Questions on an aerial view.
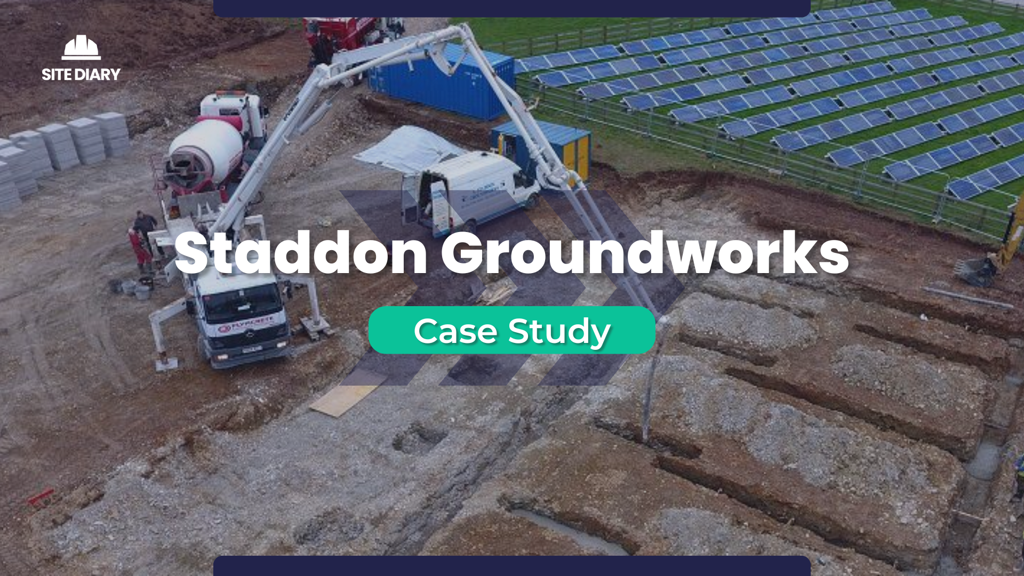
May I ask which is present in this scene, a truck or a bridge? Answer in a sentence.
This aerial view contains a truck.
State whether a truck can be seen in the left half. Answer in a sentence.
Yes, the scene does show a truck in the left half.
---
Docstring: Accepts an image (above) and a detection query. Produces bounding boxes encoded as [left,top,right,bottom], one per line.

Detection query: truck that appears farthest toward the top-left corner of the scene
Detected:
[141,87,289,217]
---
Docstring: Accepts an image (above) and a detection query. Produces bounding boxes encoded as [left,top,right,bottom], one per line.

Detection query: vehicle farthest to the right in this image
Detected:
[951,190,1024,294]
